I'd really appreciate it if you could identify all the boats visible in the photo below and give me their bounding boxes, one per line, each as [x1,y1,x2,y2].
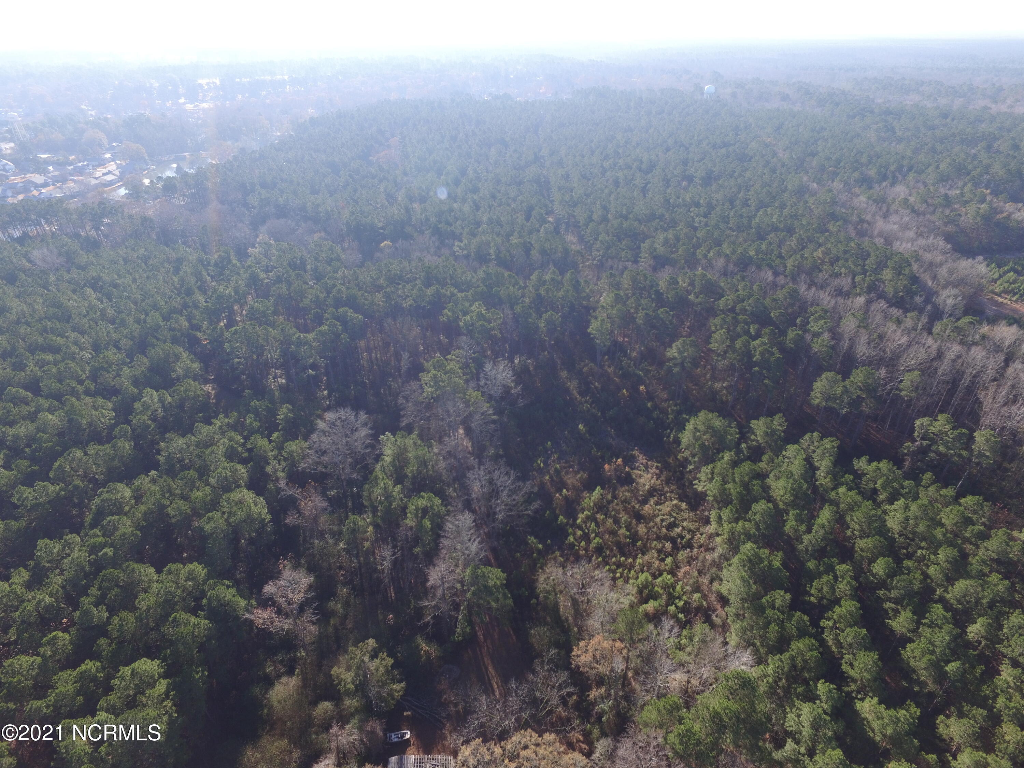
[386,730,411,742]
